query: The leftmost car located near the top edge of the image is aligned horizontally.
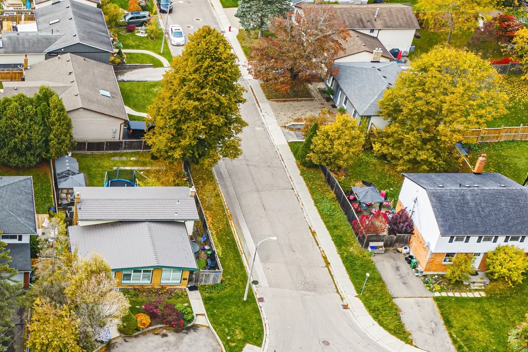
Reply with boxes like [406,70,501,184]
[121,9,155,24]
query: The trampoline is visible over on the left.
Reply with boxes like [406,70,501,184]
[105,164,141,187]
